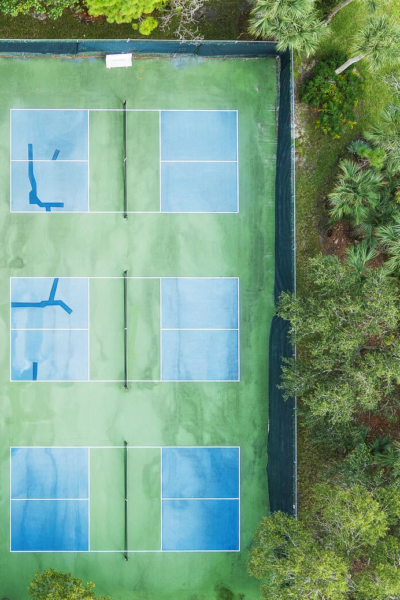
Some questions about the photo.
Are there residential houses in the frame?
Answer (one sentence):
No, the photo shows no residential house.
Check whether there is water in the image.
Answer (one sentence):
No, no water is visible.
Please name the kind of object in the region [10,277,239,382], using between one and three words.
sports court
